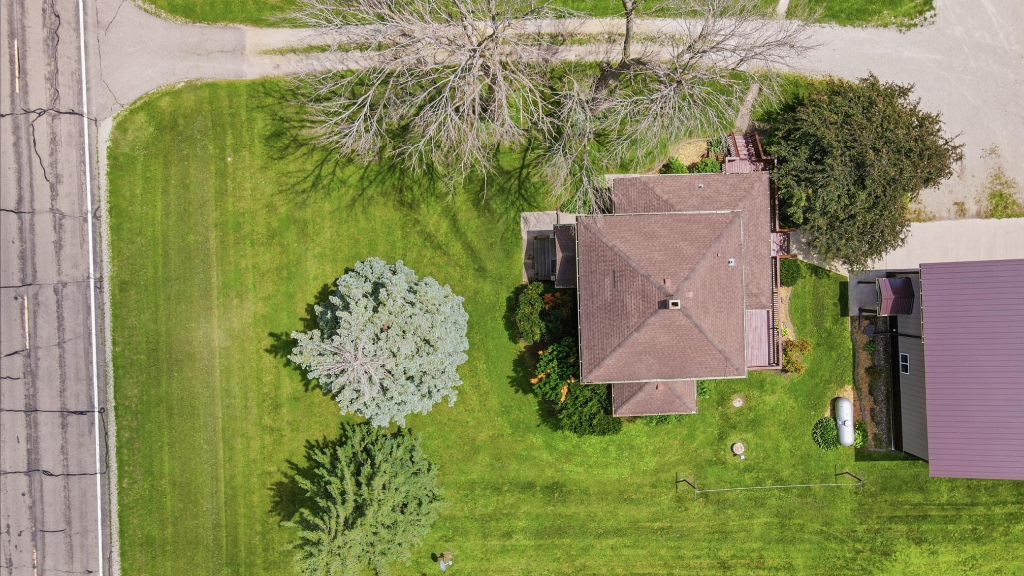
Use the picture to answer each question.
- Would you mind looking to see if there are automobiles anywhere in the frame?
No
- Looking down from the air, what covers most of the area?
grass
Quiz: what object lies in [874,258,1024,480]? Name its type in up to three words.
shed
